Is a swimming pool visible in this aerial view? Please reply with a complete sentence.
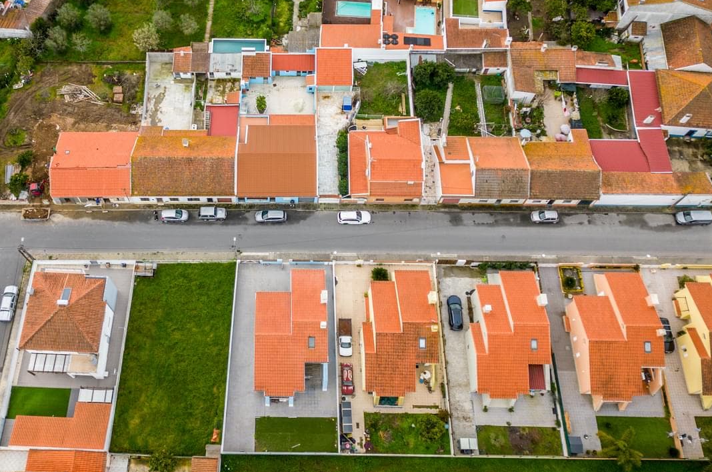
Yes, this view includes a swimming pool.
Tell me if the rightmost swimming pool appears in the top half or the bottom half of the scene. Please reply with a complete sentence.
Seen from above, the rightmost swimming pool lies in the top half of the view.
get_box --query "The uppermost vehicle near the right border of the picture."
[673,207,712,227]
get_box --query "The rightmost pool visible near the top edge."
[413,6,436,34]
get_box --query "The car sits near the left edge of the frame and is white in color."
[0,283,19,323]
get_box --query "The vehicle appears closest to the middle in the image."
[338,208,371,226]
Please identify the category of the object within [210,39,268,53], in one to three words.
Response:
swimming pool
